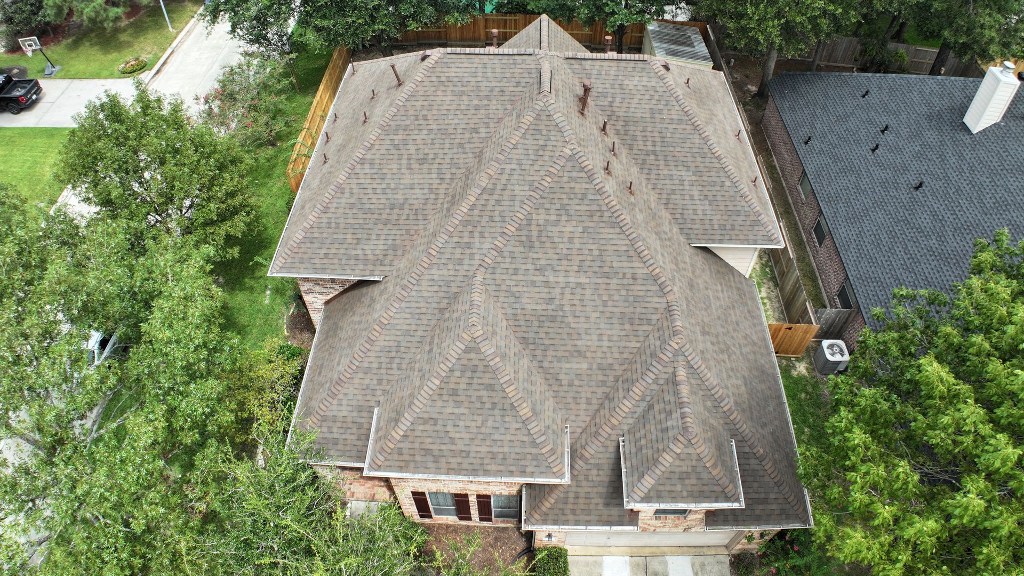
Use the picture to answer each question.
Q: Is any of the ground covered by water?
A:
No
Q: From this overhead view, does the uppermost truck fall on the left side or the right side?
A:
left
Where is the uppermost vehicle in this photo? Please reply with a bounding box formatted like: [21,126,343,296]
[0,78,48,117]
